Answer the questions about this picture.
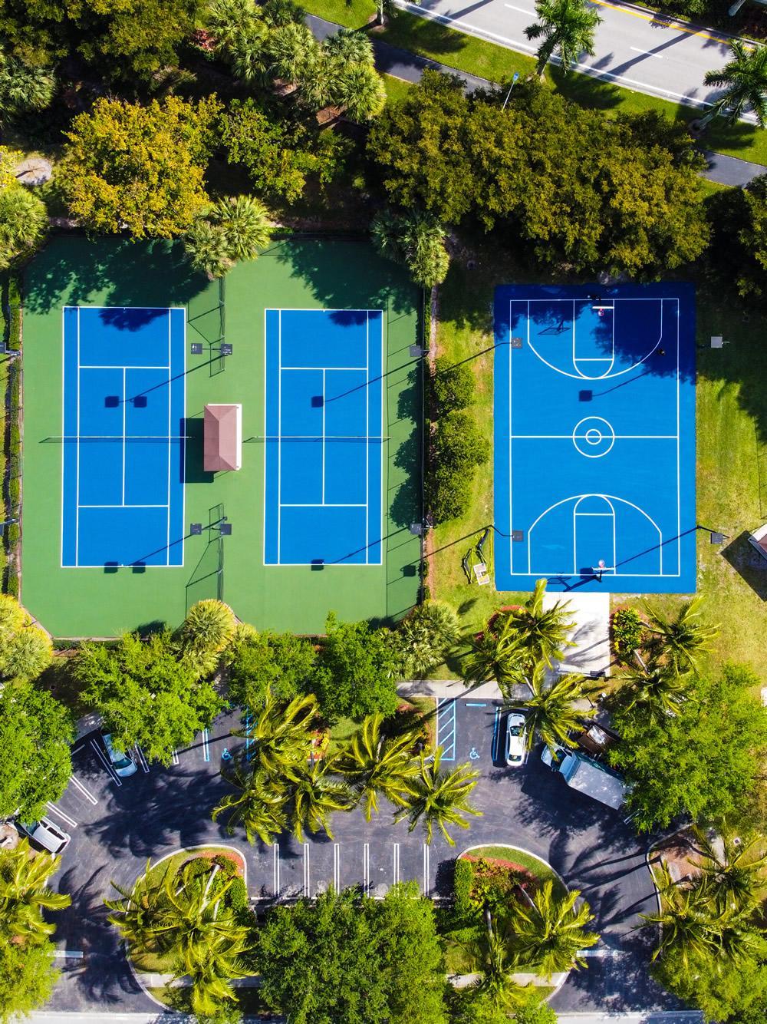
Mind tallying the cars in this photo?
3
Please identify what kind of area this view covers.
sports ground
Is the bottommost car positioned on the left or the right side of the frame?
left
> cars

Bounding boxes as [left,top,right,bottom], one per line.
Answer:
[95,731,136,780]
[14,809,69,855]
[505,713,526,768]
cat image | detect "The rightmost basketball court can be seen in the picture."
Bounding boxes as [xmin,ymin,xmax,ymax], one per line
[494,284,696,593]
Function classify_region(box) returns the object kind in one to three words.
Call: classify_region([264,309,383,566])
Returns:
tennis court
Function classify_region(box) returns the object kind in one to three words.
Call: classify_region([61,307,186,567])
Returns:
tennis court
